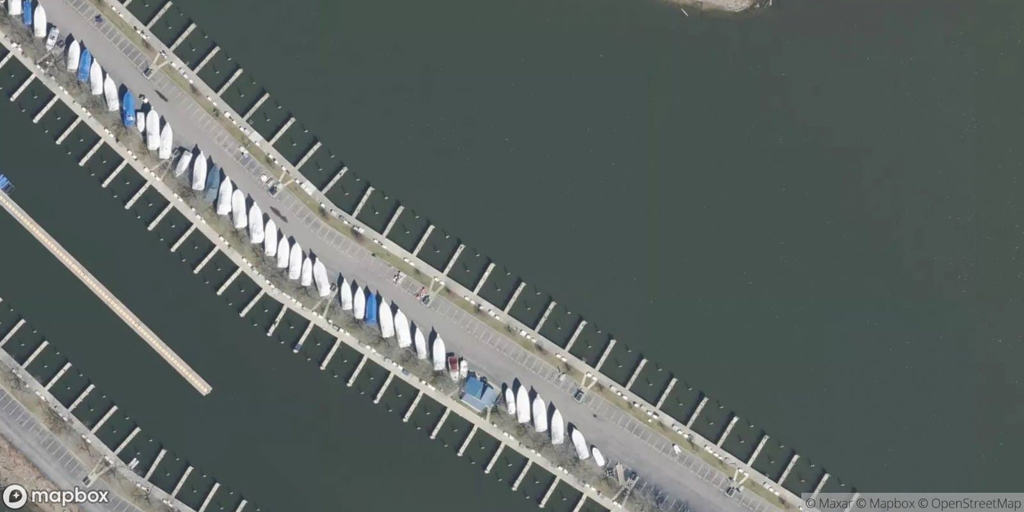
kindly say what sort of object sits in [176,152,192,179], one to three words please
boat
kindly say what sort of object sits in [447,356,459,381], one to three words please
boat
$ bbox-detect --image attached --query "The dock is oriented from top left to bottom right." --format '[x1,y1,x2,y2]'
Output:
[0,186,212,397]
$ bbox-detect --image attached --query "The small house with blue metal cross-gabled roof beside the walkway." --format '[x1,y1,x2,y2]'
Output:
[461,377,496,412]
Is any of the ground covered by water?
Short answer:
Yes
